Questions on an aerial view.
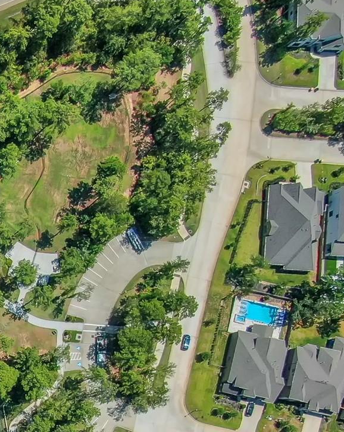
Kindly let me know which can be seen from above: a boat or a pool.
pool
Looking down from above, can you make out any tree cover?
Yes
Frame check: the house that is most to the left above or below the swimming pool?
below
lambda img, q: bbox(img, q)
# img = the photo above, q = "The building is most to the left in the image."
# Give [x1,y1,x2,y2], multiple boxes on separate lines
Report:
[218,324,287,403]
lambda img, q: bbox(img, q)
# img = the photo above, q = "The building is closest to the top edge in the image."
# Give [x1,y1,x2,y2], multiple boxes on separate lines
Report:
[287,0,344,57]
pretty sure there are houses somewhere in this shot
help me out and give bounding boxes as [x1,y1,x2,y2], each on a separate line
[283,337,344,413]
[259,180,325,271]
[326,186,344,257]
[218,324,287,403]
[287,0,344,57]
